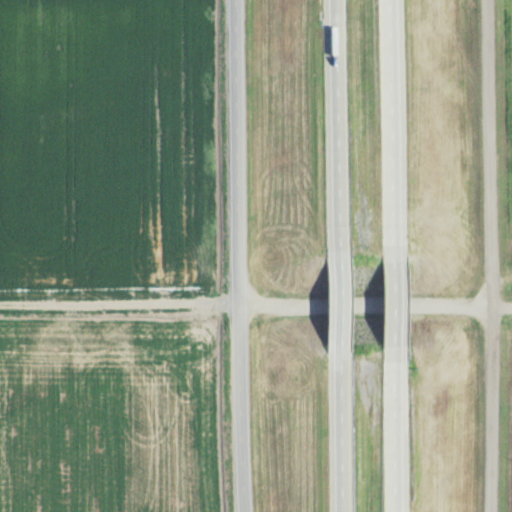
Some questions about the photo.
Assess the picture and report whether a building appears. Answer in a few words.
No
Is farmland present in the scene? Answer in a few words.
Yes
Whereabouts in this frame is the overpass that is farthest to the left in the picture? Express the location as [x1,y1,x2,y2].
[326,256,353,359]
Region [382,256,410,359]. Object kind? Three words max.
overpass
